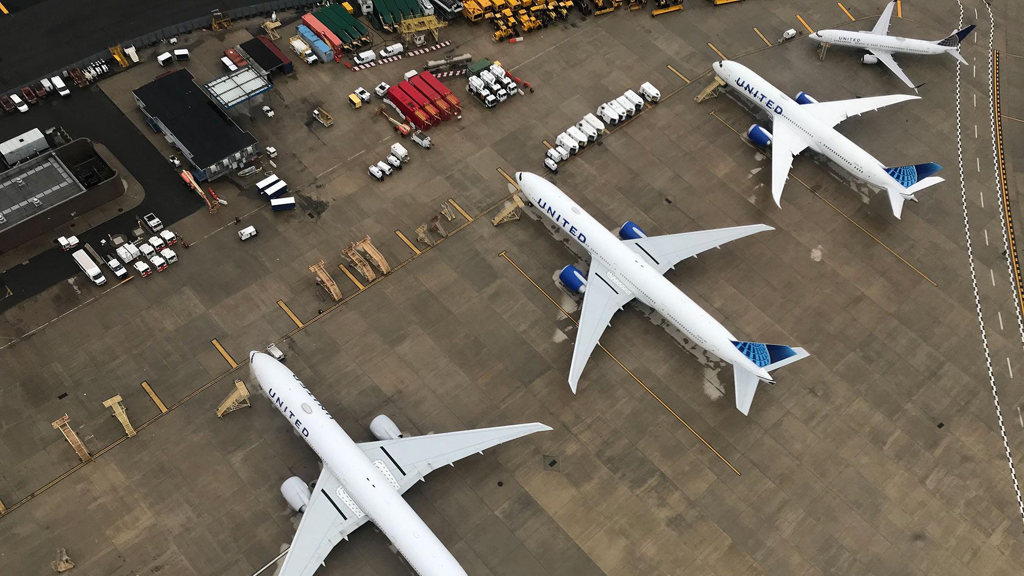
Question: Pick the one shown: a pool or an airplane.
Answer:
airplane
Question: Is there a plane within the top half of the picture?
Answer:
Yes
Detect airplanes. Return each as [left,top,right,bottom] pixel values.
[514,174,811,416]
[248,353,553,576]
[712,61,944,220]
[809,0,976,92]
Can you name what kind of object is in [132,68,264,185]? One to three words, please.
shed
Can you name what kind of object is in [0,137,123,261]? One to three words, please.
building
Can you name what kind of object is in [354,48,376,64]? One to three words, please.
vehicle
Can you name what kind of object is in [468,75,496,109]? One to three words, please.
truck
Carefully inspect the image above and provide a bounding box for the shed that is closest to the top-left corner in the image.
[0,128,49,171]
